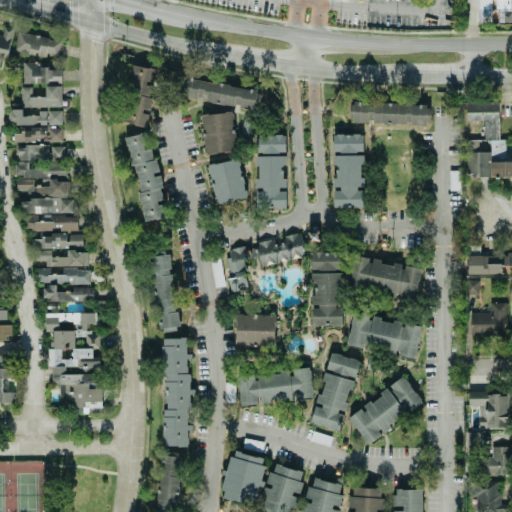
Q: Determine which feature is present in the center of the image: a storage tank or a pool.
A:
pool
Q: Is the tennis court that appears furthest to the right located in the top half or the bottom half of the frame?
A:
bottom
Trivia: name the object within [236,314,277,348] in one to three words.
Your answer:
building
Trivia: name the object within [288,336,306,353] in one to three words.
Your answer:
swimming pool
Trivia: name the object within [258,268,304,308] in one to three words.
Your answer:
swimming pool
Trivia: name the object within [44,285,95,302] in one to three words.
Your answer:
house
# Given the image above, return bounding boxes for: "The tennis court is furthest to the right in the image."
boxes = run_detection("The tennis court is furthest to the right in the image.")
[12,462,44,512]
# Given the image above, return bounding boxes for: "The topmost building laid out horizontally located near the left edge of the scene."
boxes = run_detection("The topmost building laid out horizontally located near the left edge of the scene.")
[17,33,62,58]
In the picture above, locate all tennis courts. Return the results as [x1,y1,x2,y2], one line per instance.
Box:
[12,462,44,512]
[0,462,12,512]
